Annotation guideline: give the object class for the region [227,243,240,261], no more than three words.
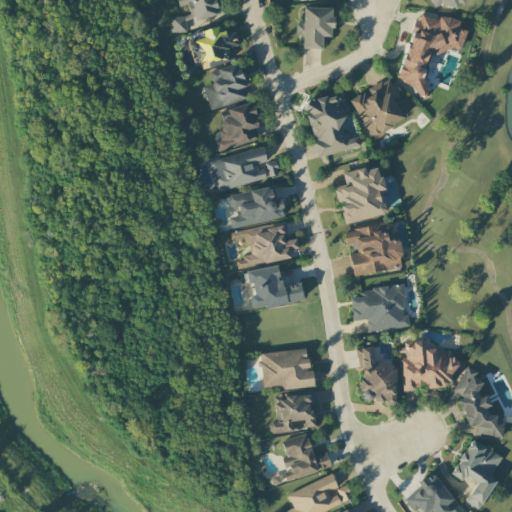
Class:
swimming pool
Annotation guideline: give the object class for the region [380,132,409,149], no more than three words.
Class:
swimming pool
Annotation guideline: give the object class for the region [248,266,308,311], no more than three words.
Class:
house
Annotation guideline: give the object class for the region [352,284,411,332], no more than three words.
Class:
house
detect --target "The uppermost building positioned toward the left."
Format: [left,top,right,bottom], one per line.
[172,0,222,34]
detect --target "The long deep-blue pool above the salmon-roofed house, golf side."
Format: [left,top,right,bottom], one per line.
[421,330,460,349]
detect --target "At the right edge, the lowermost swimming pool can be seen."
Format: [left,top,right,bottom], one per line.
[486,372,512,422]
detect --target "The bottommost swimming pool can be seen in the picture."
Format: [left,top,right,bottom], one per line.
[262,454,286,479]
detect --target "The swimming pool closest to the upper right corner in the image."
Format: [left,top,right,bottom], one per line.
[426,50,462,90]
